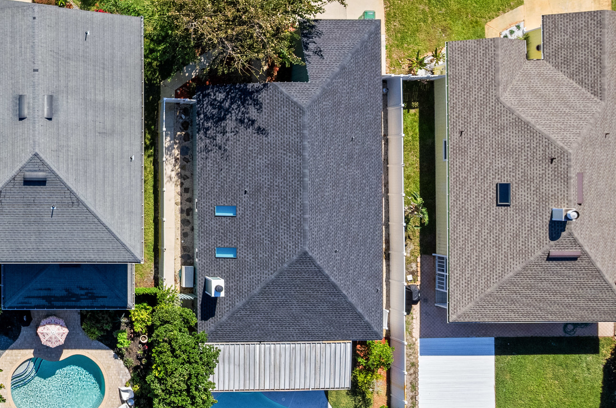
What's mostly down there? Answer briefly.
buildings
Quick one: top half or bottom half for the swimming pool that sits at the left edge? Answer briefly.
bottom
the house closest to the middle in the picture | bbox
[194,18,393,342]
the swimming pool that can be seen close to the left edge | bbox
[12,356,105,408]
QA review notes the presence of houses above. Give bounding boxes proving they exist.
[435,10,616,325]
[0,0,144,312]
[194,18,393,342]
